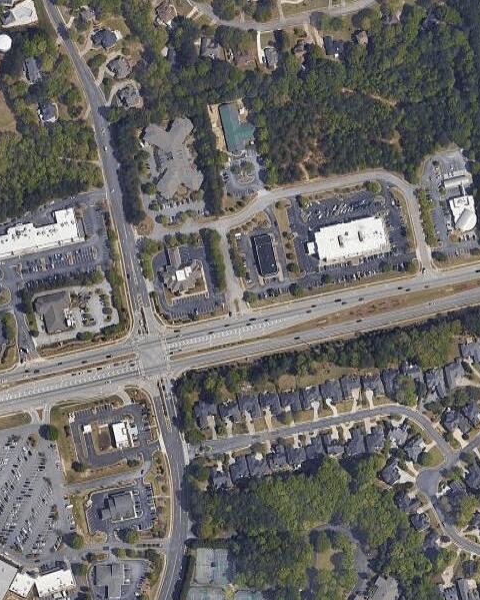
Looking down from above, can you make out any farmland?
No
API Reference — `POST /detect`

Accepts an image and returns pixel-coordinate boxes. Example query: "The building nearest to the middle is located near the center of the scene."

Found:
[252,235,278,276]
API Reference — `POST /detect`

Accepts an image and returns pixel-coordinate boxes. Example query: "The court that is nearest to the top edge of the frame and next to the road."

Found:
[194,547,229,584]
